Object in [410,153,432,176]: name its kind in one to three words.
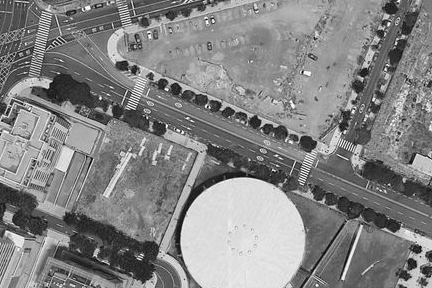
shed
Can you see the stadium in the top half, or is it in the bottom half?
bottom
